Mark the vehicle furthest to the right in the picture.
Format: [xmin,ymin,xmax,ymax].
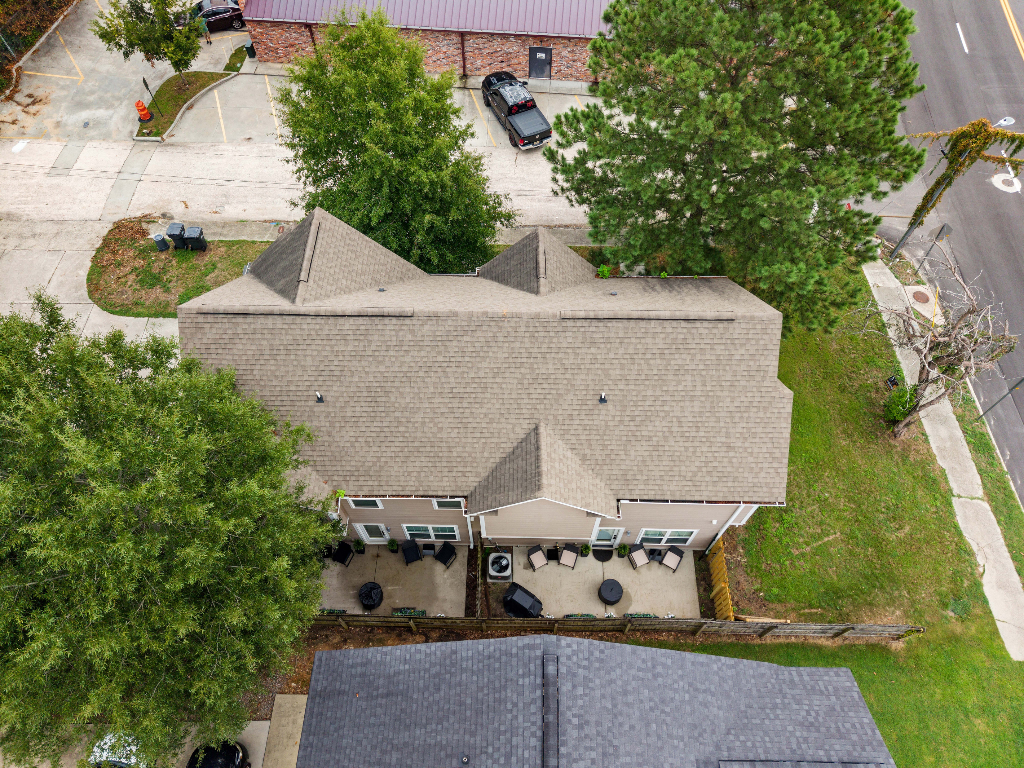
[482,71,559,152]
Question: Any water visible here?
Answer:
No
